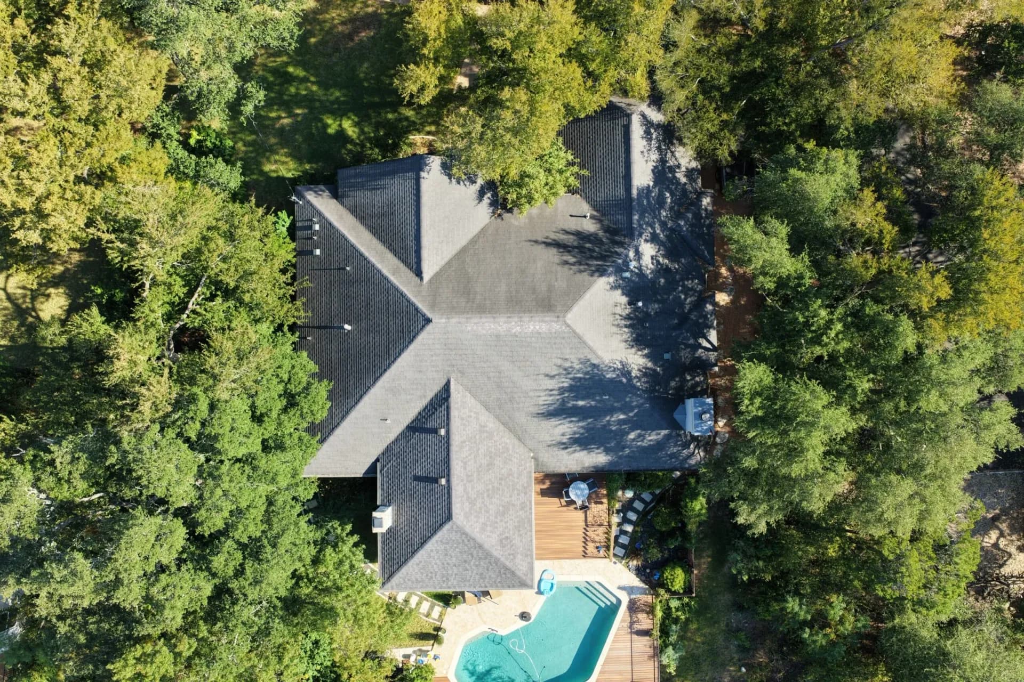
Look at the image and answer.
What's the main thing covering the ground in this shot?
trees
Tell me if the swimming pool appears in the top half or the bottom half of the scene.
bottom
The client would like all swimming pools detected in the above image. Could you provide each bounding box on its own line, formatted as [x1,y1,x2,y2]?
[449,576,628,682]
